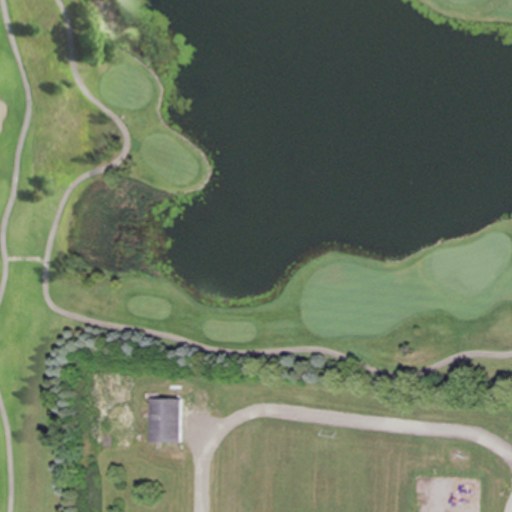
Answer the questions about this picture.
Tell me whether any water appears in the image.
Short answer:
Yes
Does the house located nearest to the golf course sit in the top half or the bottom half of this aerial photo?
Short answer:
bottom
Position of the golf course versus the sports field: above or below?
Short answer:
above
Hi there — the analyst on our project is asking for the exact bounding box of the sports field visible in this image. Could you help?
[190,418,510,512]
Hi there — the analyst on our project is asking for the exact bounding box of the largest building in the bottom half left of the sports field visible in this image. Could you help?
[148,398,184,444]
